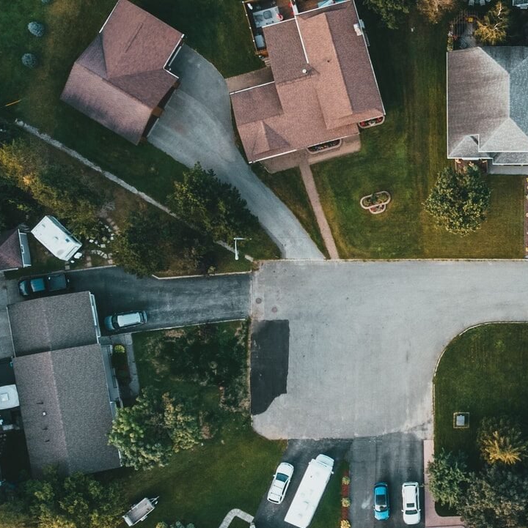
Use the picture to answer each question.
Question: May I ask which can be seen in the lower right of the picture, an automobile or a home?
automobile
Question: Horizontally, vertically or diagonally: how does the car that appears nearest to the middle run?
horizontally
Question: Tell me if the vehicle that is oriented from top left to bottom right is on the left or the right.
left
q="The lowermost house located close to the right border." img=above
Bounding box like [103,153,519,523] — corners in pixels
[447,46,528,165]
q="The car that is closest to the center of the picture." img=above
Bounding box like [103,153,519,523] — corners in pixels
[104,310,149,332]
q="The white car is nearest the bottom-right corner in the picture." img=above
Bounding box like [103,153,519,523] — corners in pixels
[401,482,420,525]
